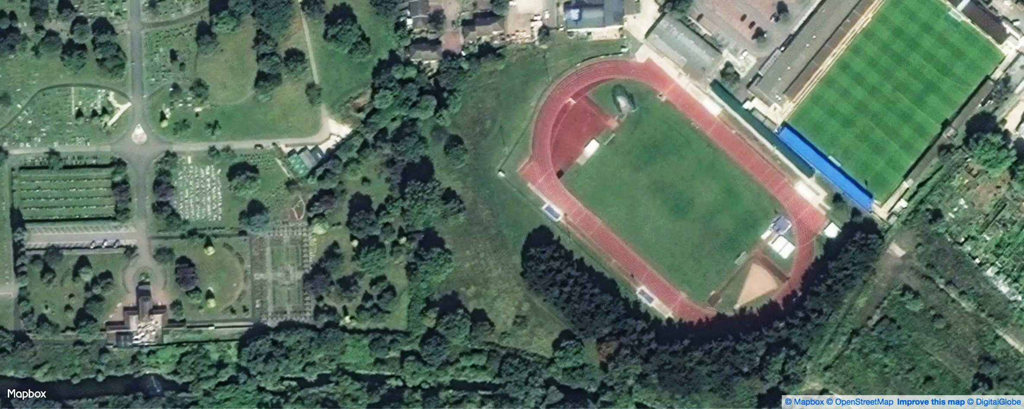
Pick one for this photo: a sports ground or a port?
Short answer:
sports ground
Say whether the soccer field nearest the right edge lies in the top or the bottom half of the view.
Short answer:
top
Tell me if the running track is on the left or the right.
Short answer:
right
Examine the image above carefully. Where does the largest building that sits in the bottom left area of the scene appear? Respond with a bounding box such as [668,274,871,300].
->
[106,285,185,348]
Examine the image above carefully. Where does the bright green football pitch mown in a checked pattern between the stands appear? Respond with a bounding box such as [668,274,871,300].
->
[787,0,1004,202]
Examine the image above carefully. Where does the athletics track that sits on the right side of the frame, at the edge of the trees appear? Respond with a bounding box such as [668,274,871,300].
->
[519,60,827,334]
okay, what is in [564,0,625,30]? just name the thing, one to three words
building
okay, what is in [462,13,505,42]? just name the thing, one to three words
house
